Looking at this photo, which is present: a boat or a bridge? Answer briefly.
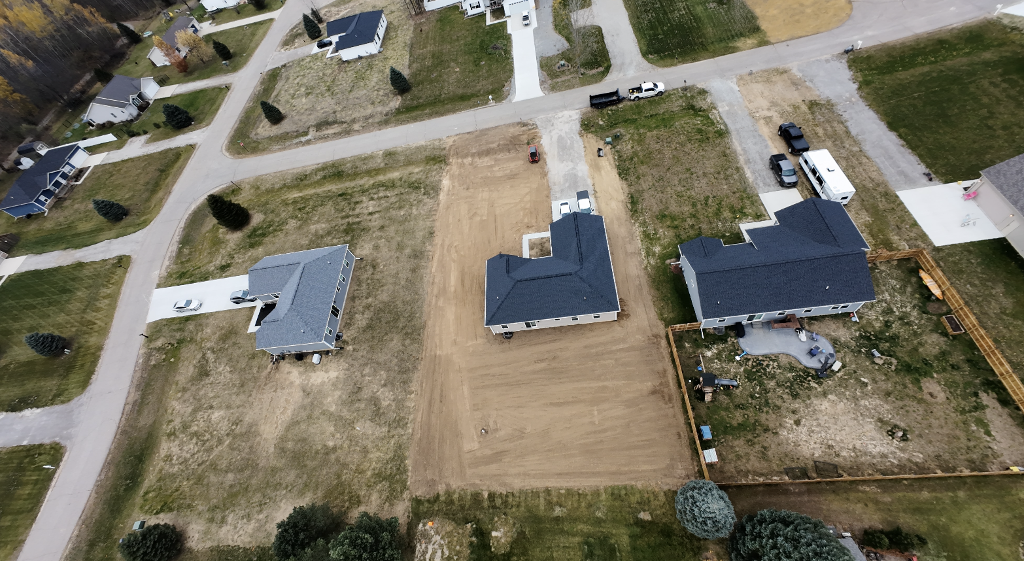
boat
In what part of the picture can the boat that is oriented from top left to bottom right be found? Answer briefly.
right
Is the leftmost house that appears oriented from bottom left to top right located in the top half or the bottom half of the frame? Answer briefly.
top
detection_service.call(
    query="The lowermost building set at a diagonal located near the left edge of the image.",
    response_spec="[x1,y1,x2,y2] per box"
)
[1,144,92,215]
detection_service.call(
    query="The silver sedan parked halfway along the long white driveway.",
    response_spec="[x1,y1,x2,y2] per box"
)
[172,298,199,314]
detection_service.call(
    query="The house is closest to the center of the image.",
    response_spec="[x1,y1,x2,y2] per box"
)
[484,211,620,339]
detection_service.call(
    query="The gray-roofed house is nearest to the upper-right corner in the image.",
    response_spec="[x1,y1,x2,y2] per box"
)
[965,155,1024,257]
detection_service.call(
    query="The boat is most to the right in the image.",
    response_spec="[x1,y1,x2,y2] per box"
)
[914,268,938,300]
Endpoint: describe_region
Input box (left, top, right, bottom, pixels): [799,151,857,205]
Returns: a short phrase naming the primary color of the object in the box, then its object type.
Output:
white vehicle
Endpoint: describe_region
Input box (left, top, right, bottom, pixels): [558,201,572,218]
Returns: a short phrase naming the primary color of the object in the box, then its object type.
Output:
white car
